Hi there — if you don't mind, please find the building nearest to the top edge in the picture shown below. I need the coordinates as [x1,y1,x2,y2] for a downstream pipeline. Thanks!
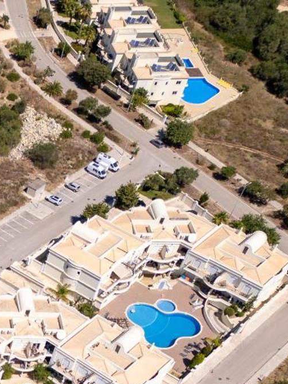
[76,0,190,102]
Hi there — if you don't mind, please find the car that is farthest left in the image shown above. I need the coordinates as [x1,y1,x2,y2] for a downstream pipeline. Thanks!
[44,194,62,206]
